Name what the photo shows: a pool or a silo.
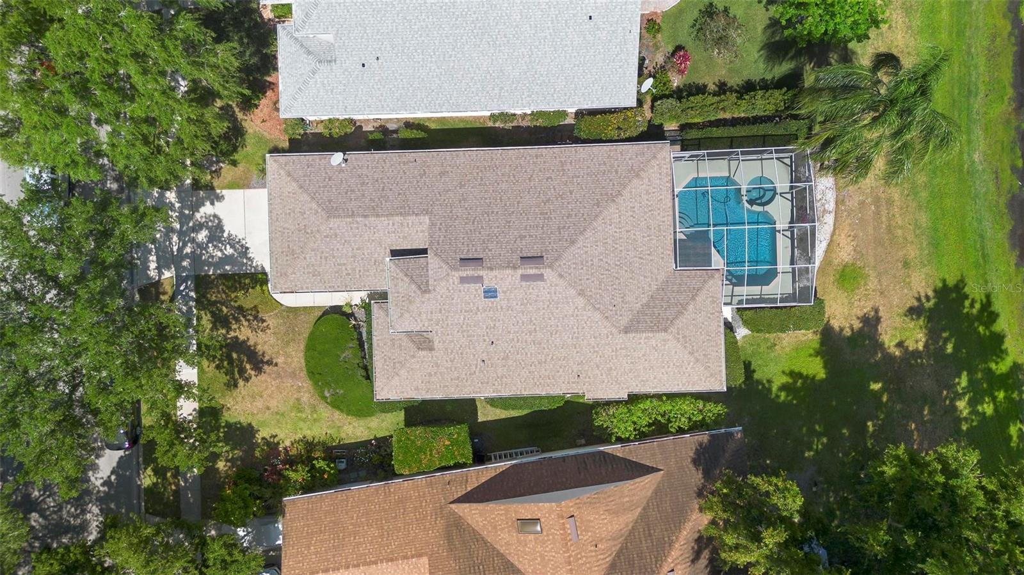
pool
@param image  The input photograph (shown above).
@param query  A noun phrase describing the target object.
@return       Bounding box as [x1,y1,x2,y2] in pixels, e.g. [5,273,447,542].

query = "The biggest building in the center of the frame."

[265,139,728,403]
